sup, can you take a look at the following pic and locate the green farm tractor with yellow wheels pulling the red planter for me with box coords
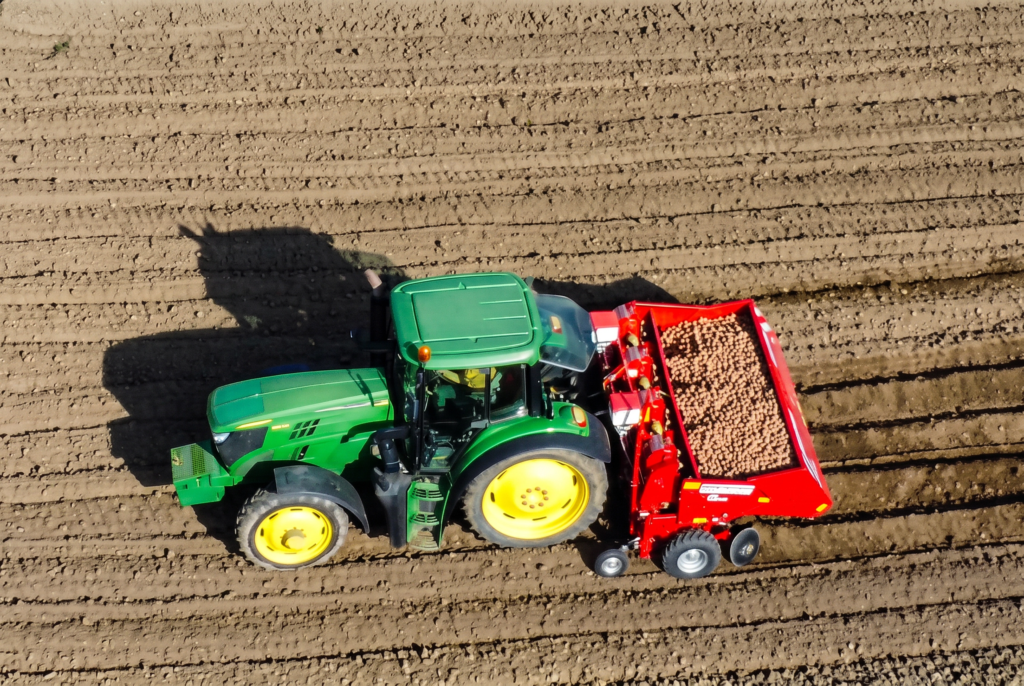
[170,268,627,573]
